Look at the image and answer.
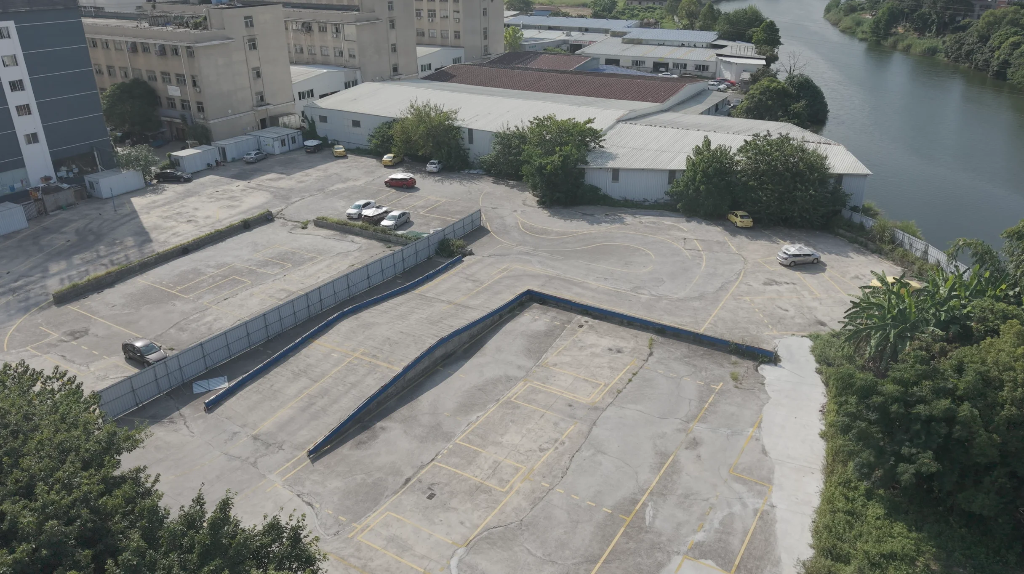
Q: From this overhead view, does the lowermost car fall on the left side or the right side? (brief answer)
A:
left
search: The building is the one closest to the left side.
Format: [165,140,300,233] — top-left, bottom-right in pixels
[0,202,28,235]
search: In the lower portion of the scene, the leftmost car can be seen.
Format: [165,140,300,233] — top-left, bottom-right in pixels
[117,335,172,367]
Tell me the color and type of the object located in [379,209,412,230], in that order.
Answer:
gray car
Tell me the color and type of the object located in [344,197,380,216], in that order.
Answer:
white car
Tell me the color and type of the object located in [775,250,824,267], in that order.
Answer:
gray car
